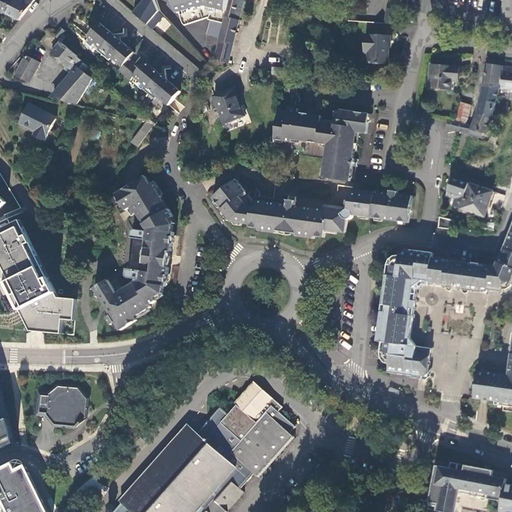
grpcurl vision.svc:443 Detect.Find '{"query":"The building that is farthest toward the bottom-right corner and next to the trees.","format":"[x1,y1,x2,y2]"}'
[428,460,512,512]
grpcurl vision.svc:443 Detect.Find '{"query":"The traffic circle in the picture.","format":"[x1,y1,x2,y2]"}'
[226,248,302,334]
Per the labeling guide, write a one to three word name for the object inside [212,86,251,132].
house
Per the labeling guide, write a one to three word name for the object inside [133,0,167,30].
house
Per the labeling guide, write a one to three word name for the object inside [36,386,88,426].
building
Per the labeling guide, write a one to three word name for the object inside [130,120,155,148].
shed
